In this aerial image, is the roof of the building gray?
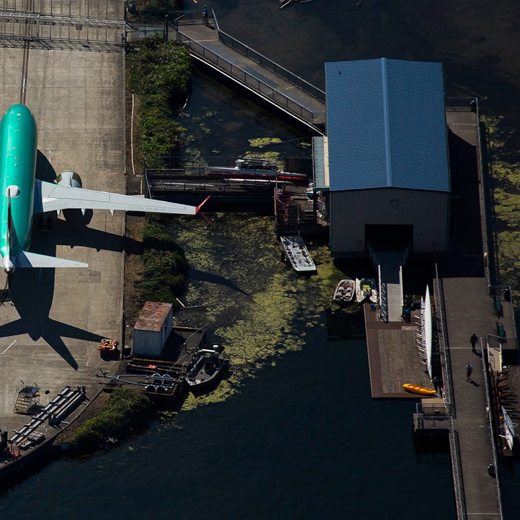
No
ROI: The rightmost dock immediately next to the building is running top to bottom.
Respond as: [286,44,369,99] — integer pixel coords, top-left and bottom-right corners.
[436,106,518,520]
